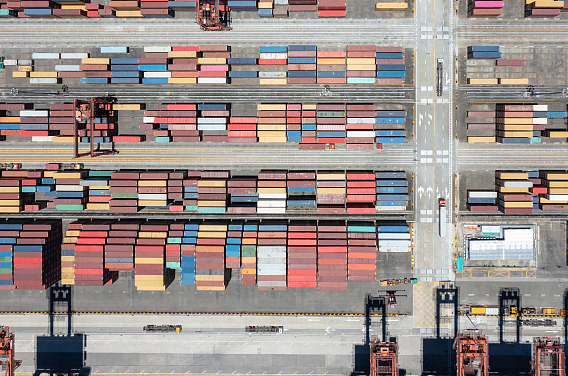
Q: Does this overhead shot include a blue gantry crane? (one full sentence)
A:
No, I can see no blue gantry crane in this picture.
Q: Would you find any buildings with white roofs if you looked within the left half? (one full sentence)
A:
No, I can find no building with a white roof within the left half.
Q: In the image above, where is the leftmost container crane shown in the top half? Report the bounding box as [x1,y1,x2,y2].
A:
[74,95,120,161]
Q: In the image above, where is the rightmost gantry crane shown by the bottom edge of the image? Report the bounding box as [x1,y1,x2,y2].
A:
[531,337,568,376]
